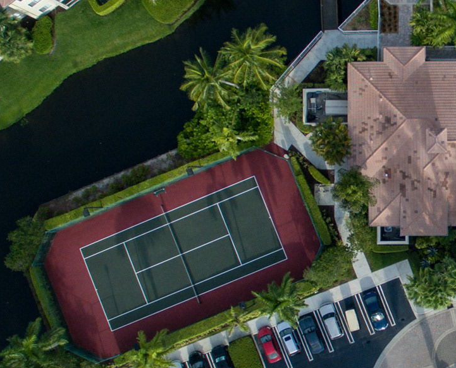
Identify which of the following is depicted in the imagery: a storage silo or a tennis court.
tennis court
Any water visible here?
Yes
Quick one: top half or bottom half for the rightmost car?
bottom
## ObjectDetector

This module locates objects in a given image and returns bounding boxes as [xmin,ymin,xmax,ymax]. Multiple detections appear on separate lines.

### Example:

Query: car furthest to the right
[364,291,390,331]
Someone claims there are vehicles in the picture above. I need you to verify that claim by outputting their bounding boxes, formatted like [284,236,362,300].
[211,341,236,368]
[277,319,302,357]
[343,302,360,327]
[319,301,345,341]
[364,291,390,331]
[298,312,327,355]
[257,325,283,363]
[188,349,211,368]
